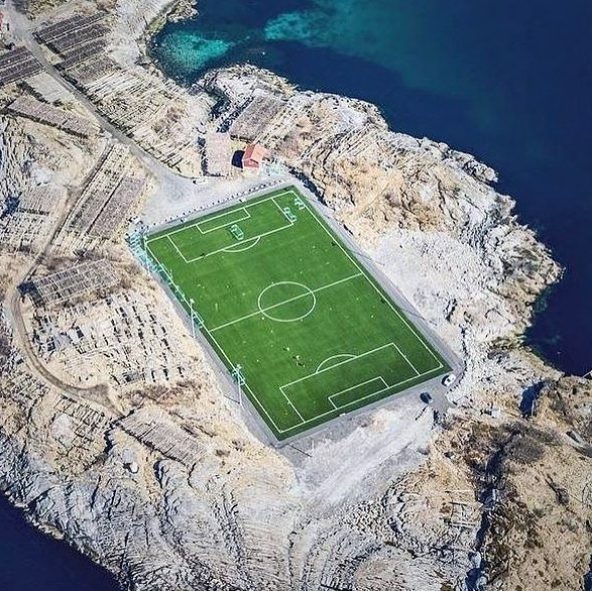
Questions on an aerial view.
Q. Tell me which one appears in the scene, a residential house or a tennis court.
residential house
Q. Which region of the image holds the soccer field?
center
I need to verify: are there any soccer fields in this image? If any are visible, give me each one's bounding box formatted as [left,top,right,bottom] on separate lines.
[139,185,452,440]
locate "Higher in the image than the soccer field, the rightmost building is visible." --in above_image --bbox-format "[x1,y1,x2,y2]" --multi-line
[242,141,268,172]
